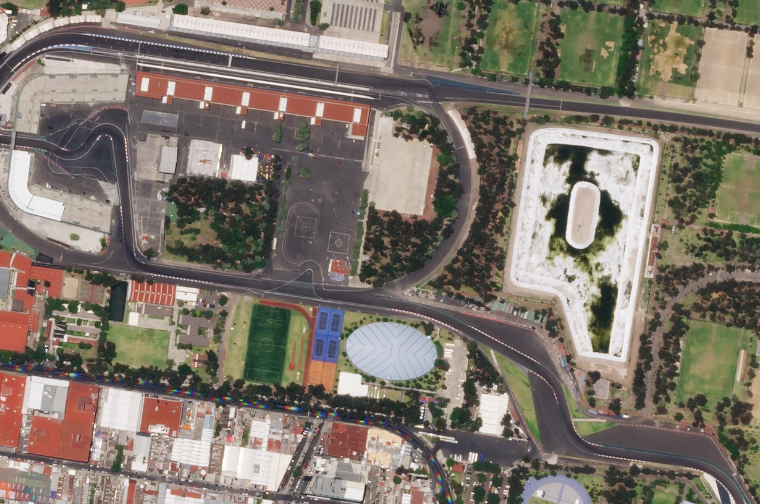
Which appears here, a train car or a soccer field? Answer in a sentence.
Of the two, only a soccer field appears.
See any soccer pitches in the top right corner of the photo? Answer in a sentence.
Yes, in the top right corner of the photo there is a soccer pitch.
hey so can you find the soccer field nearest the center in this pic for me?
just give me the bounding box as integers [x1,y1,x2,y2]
[243,305,291,385]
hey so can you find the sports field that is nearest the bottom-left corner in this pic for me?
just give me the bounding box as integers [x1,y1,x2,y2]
[110,324,170,370]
